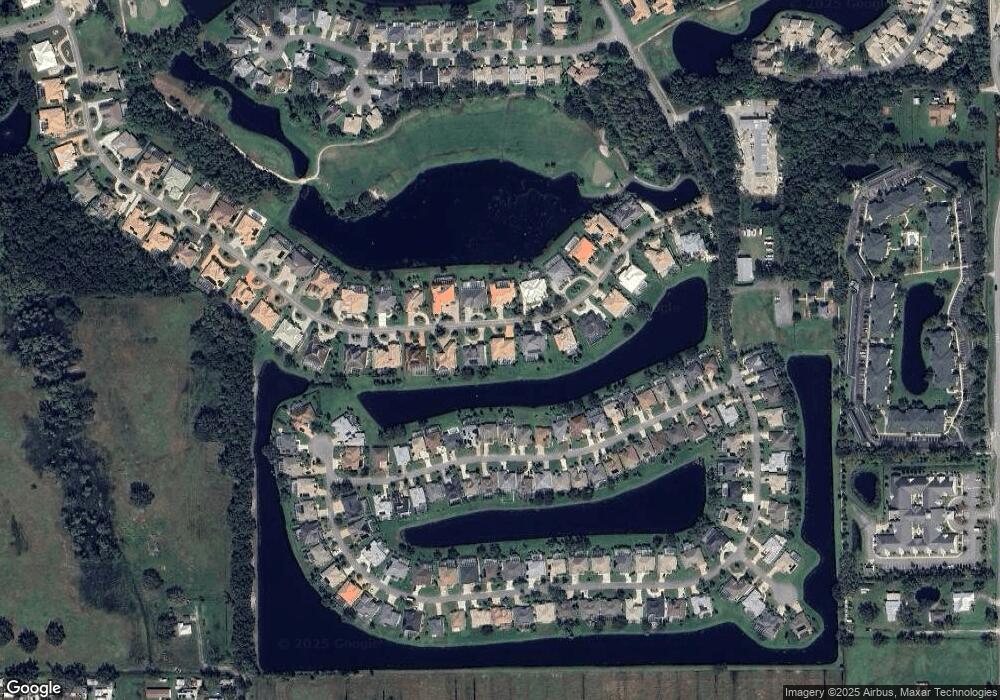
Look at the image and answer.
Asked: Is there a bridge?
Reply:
No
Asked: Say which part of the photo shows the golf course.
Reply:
top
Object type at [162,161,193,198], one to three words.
house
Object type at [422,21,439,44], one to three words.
house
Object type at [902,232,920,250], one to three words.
swimming pool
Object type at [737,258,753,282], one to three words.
building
